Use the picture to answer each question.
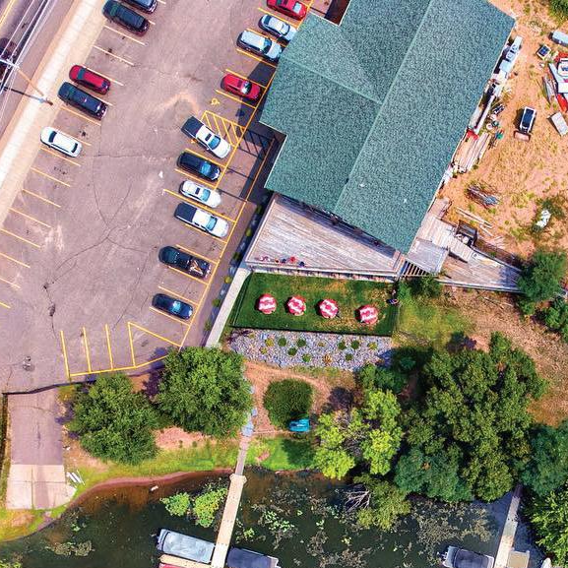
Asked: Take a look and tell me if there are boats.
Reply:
Yes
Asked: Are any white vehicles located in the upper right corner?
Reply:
Yes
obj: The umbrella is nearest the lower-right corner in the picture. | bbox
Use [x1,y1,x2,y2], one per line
[357,300,377,321]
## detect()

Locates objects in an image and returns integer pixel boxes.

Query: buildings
[455,216,477,244]
[258,0,516,254]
